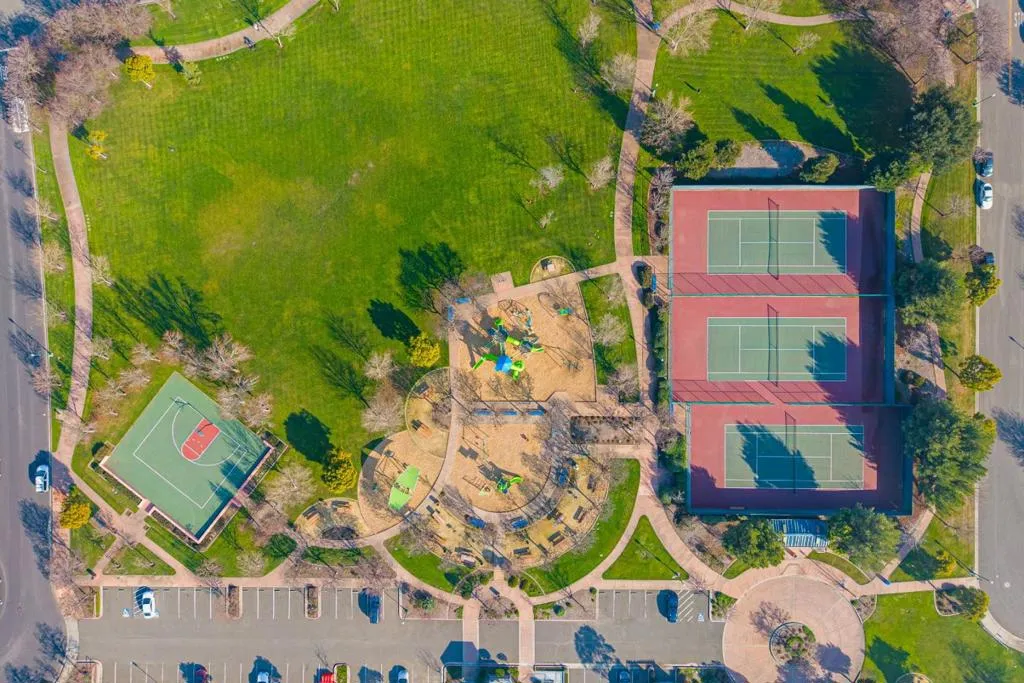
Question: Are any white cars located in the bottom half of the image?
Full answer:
Yes, a white car appears in the bottom half of the image.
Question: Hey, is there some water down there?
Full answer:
No, the scene doesn't show any water.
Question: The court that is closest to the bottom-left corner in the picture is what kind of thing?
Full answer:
In the photo, the court that is closest to the bottom-left corner shows up as a basketball court.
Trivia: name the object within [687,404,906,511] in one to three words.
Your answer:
tennis court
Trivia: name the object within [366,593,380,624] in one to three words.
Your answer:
car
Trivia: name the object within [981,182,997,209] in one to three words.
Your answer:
car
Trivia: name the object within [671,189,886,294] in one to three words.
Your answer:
tennis court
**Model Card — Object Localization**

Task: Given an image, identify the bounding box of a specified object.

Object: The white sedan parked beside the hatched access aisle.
[138,592,154,620]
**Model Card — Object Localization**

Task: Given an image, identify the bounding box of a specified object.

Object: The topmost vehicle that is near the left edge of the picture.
[31,464,48,494]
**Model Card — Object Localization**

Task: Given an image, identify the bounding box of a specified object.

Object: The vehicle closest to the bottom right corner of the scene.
[666,593,680,624]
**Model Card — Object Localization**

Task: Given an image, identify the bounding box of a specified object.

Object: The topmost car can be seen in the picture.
[979,148,996,176]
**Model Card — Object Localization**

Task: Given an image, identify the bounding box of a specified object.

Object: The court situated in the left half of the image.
[101,372,269,541]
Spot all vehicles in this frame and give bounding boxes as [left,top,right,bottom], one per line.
[192,670,207,683]
[666,593,680,624]
[138,592,154,620]
[320,674,333,683]
[255,673,269,683]
[619,673,631,683]
[366,593,380,624]
[981,182,997,209]
[31,464,48,494]
[979,148,996,176]
[396,671,409,683]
